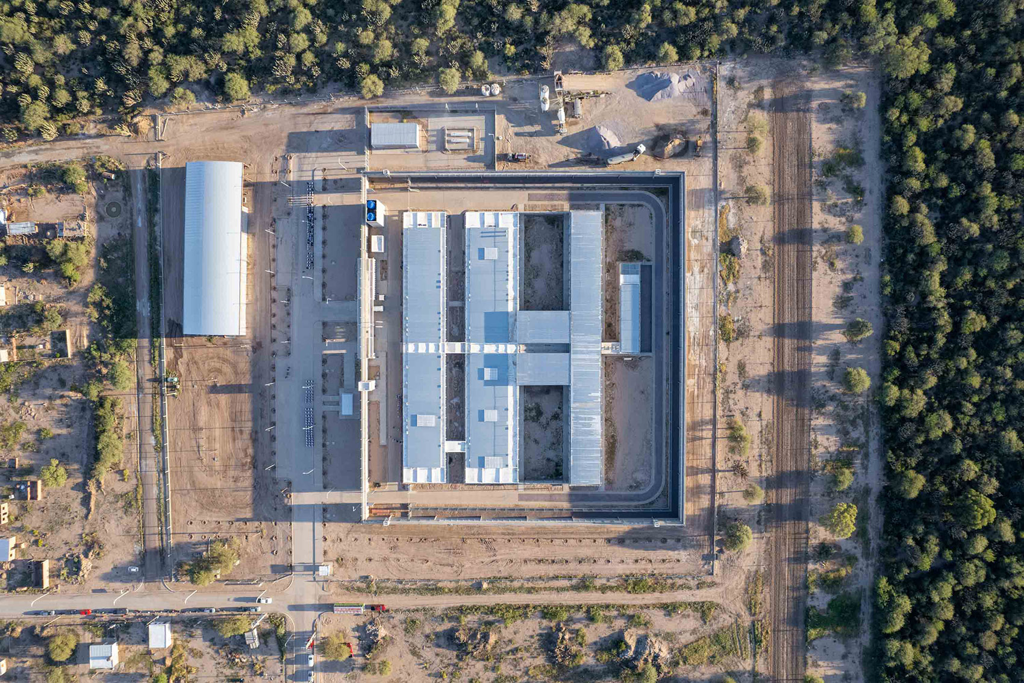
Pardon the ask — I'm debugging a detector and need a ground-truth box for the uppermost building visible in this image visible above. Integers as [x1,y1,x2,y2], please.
[371,123,419,148]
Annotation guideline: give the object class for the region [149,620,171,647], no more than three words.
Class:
house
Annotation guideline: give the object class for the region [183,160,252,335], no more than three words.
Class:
building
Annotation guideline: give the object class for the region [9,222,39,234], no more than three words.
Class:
shed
